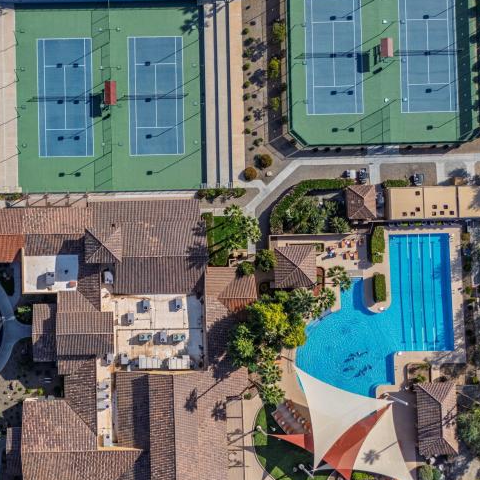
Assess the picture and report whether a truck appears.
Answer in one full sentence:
No, no truck is visible in the scene.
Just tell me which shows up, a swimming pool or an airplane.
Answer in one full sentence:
This aerial view contains a swimming pool.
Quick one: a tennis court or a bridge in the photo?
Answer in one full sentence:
Of the two, only a tennis court appears.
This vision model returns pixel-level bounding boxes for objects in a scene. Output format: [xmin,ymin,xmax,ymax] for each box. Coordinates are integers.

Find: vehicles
[410,173,421,186]
[346,167,356,180]
[356,168,367,181]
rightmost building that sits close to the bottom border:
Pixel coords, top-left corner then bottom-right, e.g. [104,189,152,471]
[409,382,459,457]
